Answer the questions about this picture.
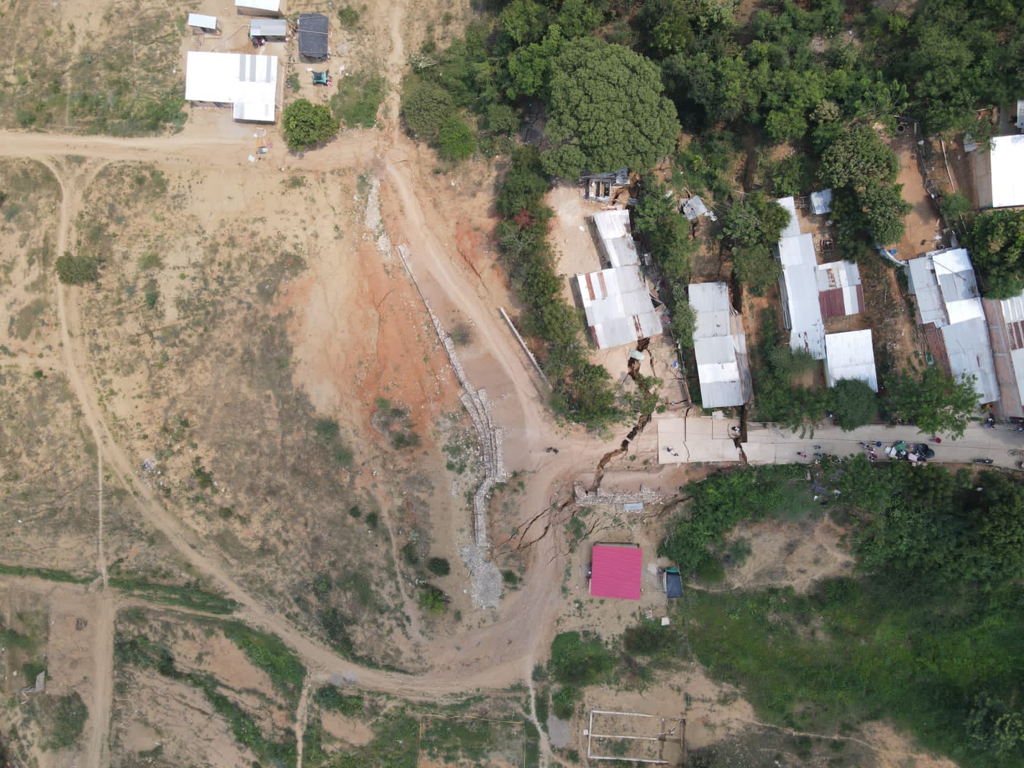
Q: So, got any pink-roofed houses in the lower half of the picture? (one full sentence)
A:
Yes, a pink-roofed house is visible in the lower half of the picture.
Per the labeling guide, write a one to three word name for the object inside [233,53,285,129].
house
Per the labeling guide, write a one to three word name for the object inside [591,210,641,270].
house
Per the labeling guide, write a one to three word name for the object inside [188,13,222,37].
shed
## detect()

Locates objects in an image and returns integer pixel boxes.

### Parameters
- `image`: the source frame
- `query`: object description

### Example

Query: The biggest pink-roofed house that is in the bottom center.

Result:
[590,543,642,600]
